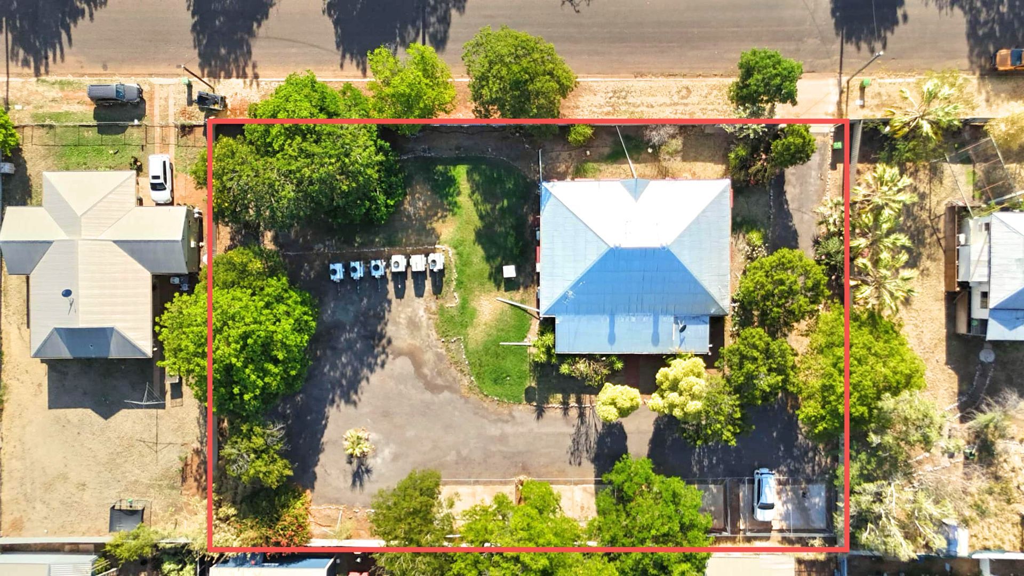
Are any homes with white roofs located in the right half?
Yes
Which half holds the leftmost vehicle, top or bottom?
top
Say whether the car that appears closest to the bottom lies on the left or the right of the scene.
right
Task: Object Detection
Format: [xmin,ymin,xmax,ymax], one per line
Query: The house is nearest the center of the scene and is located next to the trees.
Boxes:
[536,178,731,355]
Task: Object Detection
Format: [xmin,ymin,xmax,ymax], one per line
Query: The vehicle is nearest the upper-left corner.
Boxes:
[86,83,147,107]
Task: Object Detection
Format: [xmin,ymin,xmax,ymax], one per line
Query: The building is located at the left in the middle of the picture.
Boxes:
[0,170,199,359]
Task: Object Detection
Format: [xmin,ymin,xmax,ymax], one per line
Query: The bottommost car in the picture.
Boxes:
[750,467,775,519]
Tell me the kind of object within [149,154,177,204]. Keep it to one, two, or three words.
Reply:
car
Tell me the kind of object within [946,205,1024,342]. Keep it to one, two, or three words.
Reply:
house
